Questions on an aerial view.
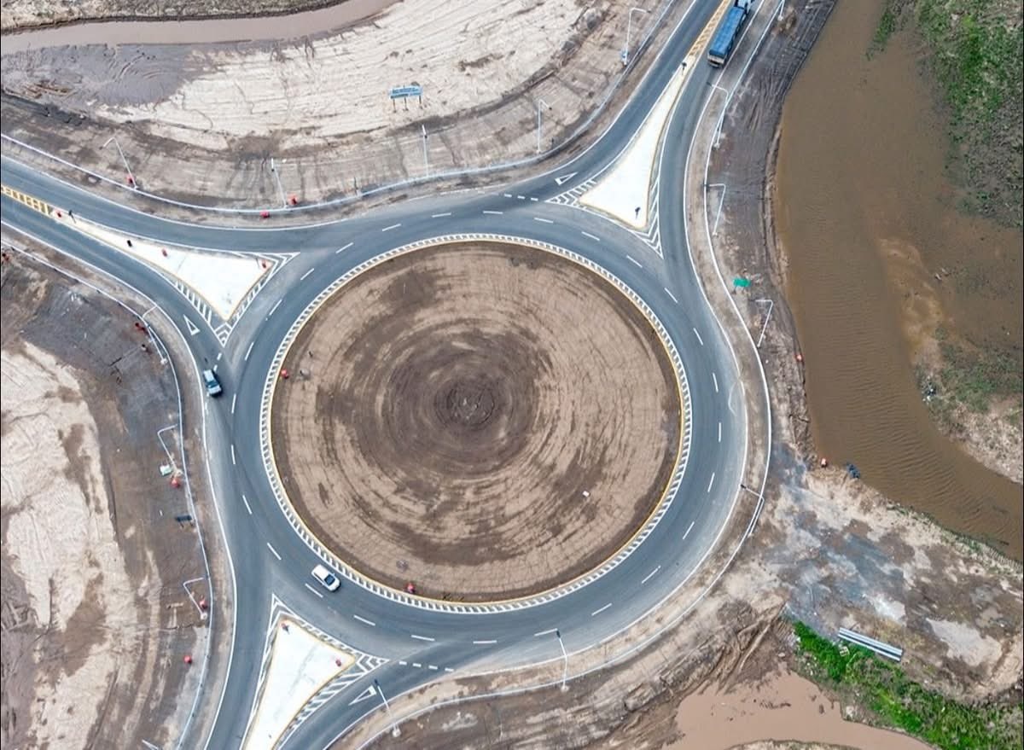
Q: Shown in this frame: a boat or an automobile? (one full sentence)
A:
The image shows an automobile.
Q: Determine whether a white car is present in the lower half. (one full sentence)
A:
Yes, a white car shows up in the lower half.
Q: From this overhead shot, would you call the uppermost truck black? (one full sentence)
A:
No, the uppermost truck is blue.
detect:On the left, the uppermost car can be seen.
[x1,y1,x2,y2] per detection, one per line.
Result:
[203,369,222,397]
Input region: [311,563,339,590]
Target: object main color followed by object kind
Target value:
white car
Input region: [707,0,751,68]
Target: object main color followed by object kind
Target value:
blue truck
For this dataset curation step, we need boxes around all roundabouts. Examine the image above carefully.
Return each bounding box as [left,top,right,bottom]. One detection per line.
[0,0,764,750]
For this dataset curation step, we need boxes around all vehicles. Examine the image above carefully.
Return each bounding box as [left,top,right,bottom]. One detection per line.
[311,563,339,590]
[707,0,751,68]
[203,369,222,397]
